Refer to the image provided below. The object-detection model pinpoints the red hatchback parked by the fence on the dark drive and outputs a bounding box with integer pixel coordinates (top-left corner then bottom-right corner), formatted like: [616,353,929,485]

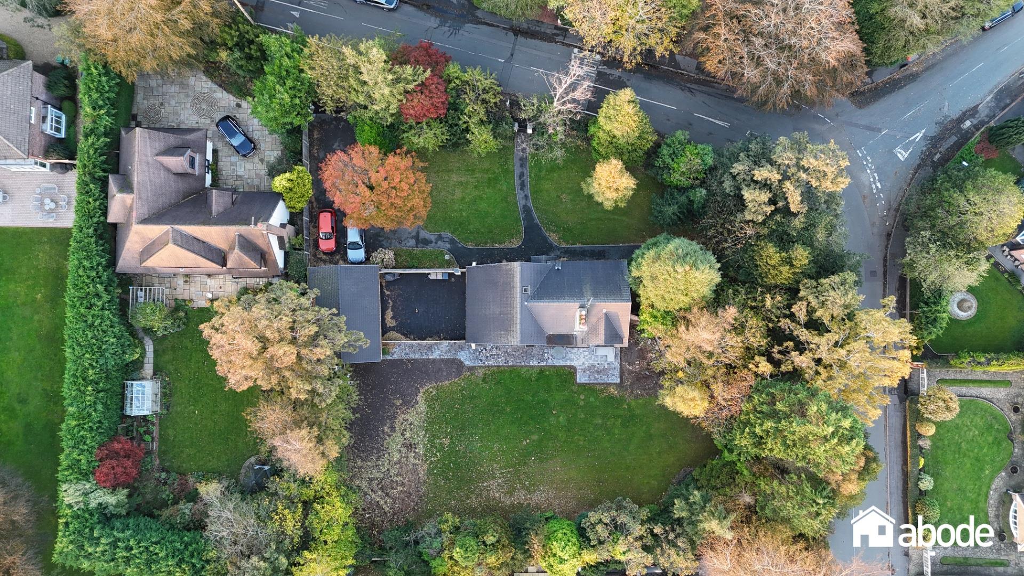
[314,209,338,251]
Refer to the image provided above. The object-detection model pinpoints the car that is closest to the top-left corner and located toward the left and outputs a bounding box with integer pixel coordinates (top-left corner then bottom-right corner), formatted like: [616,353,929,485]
[213,112,258,160]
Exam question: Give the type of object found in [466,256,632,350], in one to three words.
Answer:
house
